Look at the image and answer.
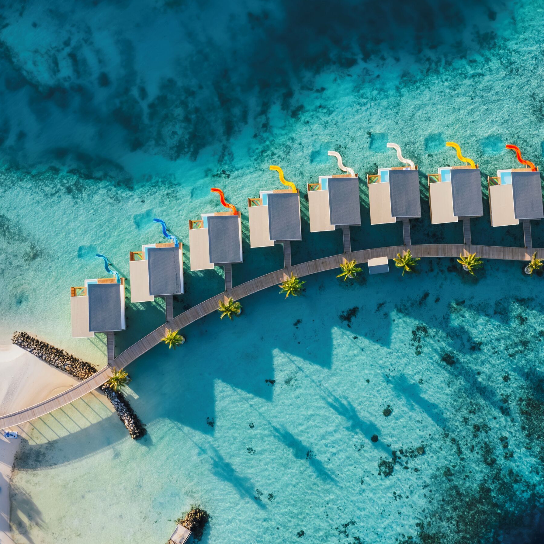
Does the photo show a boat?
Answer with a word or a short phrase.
No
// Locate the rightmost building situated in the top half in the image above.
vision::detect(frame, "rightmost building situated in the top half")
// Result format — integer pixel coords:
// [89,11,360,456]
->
[487,145,544,227]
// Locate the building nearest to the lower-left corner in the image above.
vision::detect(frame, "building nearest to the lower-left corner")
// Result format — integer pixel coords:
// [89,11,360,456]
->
[70,253,129,339]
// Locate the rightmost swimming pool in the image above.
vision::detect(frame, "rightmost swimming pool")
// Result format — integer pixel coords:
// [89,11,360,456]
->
[497,170,512,185]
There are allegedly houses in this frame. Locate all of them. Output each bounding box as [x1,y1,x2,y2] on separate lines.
[128,218,187,302]
[246,165,302,247]
[187,187,245,270]
[306,151,362,233]
[366,143,422,225]
[487,145,544,227]
[70,253,129,339]
[428,143,484,225]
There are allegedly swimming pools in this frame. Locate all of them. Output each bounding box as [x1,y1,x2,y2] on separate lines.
[497,170,512,185]
[379,168,392,182]
[438,168,453,182]
[202,213,214,228]
[318,176,332,190]
[144,244,156,260]
[260,190,274,206]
